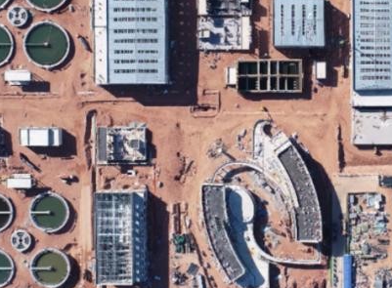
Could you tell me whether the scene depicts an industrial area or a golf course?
industrial area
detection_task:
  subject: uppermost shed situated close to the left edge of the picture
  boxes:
[5,70,32,83]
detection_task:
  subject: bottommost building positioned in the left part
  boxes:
[95,190,146,285]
